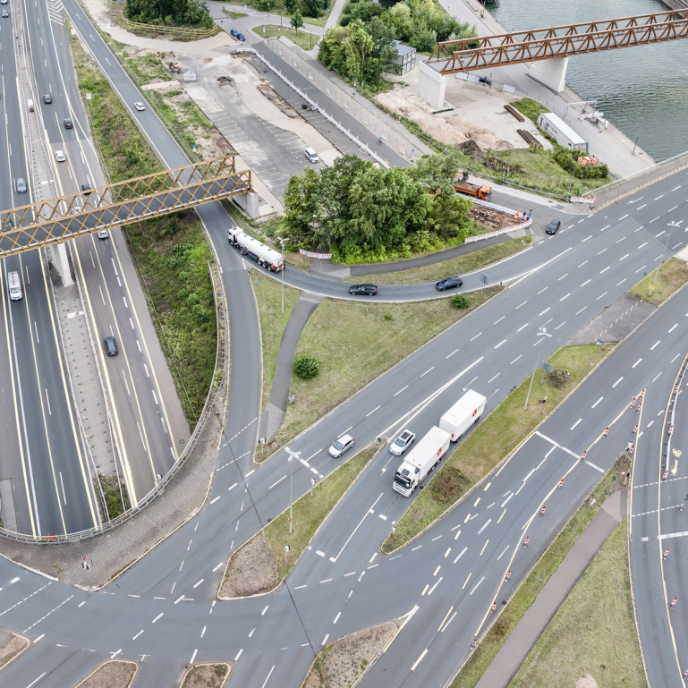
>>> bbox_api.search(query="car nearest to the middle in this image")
[348,280,379,295]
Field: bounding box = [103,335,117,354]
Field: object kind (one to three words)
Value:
vehicle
